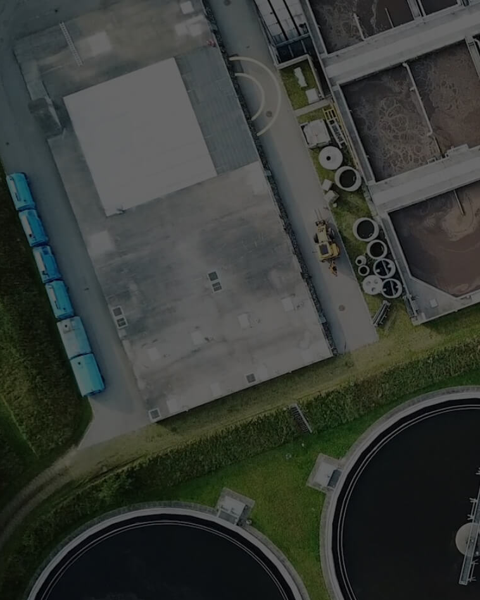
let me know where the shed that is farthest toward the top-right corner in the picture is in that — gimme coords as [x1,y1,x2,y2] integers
[298,116,335,152]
